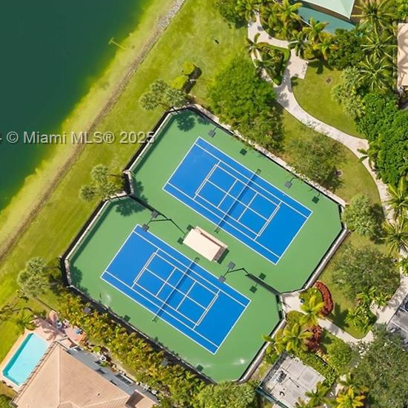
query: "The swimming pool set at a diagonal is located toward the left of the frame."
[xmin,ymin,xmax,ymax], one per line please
[1,332,50,387]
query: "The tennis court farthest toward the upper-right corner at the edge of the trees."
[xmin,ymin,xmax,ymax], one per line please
[128,107,343,294]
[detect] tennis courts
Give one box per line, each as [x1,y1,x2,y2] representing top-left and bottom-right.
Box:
[128,107,343,294]
[68,198,284,380]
